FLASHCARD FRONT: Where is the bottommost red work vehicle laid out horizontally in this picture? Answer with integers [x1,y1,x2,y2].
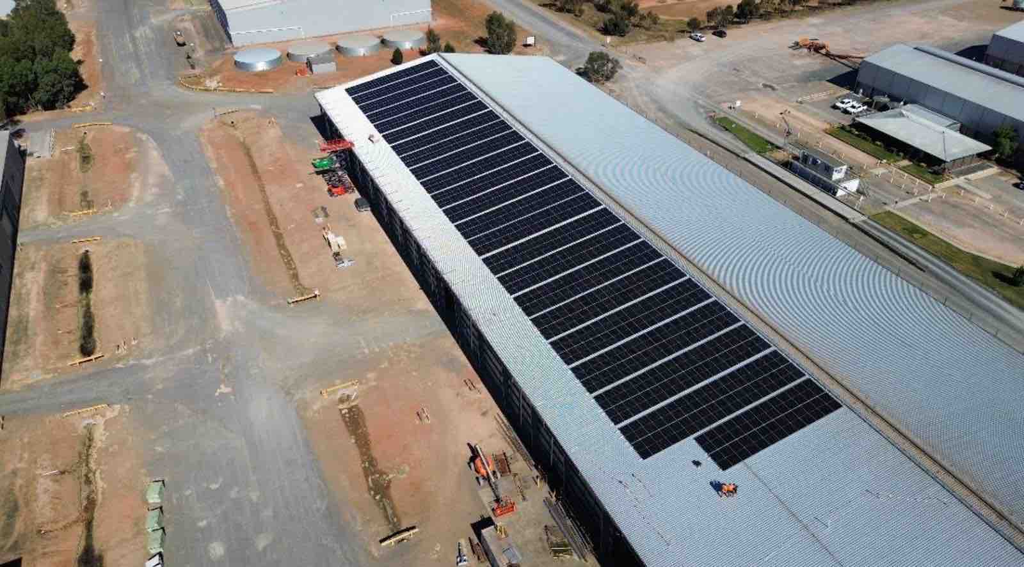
[327,183,362,199]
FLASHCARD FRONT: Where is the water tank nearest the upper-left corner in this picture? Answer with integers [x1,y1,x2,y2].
[232,47,284,70]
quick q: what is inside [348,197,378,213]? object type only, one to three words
car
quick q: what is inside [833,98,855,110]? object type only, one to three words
vehicle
